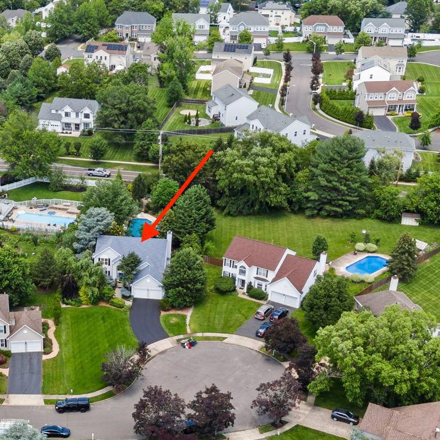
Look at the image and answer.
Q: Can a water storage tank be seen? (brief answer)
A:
No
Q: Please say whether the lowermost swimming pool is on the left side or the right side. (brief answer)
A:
right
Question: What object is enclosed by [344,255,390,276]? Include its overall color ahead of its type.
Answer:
blue swimming pool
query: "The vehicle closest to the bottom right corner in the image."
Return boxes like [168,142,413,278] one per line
[329,406,362,426]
